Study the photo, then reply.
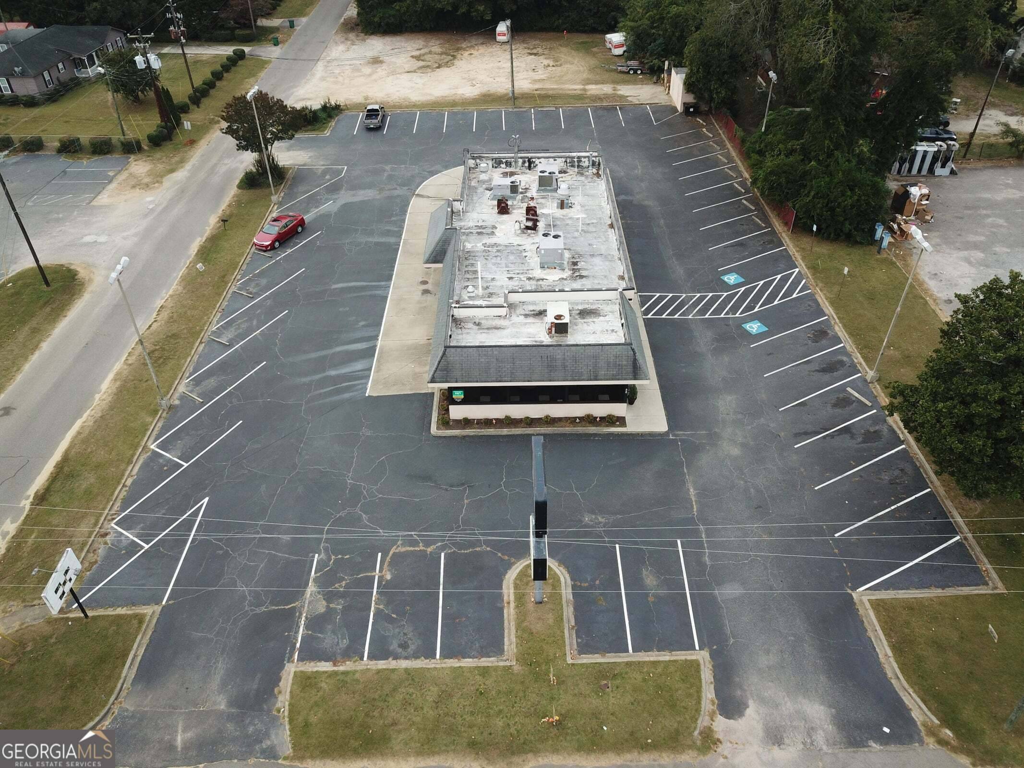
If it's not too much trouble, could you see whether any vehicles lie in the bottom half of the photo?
No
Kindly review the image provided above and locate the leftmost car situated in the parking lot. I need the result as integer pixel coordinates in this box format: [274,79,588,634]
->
[252,212,306,249]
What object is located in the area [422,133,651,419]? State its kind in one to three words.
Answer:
building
